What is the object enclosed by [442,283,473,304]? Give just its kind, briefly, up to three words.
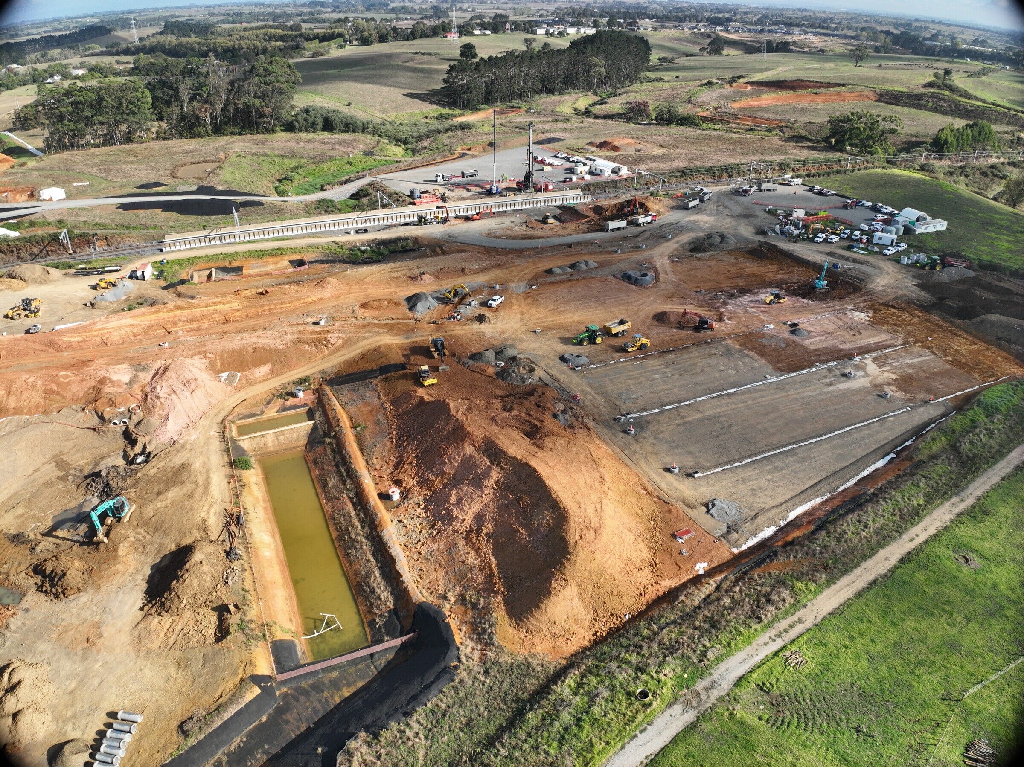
work vehicle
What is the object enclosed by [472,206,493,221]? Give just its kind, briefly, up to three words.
work vehicle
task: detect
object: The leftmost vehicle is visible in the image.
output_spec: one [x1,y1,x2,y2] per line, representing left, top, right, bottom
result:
[7,301,39,318]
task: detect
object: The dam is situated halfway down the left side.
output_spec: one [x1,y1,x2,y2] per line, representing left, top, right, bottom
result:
[234,407,317,448]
